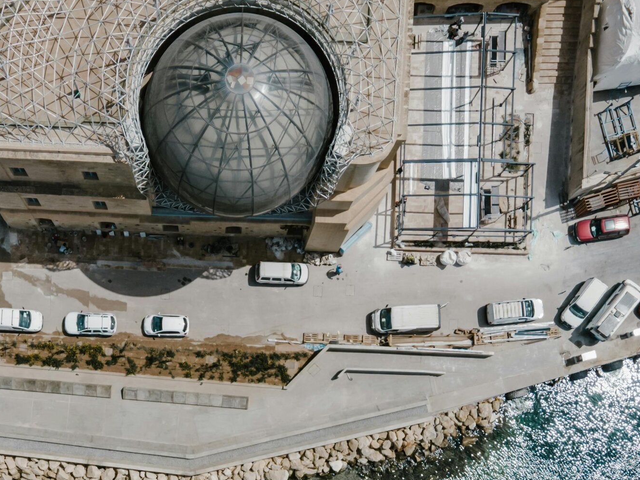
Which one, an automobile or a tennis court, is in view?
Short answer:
automobile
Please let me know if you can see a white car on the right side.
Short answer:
Yes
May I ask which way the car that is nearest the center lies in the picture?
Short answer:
from side to side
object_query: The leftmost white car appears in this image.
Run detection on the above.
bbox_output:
[0,306,44,335]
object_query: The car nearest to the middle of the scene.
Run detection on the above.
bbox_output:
[254,258,309,287]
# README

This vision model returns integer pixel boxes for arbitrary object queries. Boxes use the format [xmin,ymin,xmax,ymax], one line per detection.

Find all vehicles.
[64,310,119,338]
[559,274,614,332]
[0,306,44,335]
[483,296,542,326]
[581,276,640,347]
[143,312,189,338]
[369,300,454,336]
[569,215,633,246]
[254,258,309,287]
